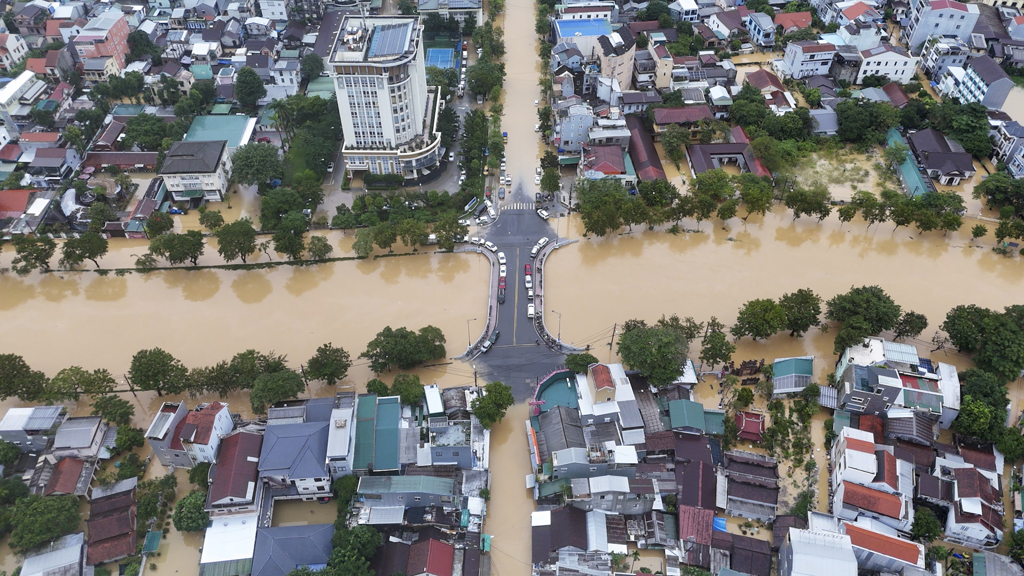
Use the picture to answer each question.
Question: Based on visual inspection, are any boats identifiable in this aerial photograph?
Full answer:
No, no boat can be seen from above.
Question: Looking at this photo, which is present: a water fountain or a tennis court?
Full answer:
There is a tennis court in the scene.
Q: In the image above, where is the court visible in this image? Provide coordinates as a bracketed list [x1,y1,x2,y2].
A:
[429,29,464,79]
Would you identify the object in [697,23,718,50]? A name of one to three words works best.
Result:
house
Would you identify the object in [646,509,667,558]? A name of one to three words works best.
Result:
house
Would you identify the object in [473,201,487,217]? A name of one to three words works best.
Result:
vehicle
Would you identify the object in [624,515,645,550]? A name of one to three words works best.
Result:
shed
